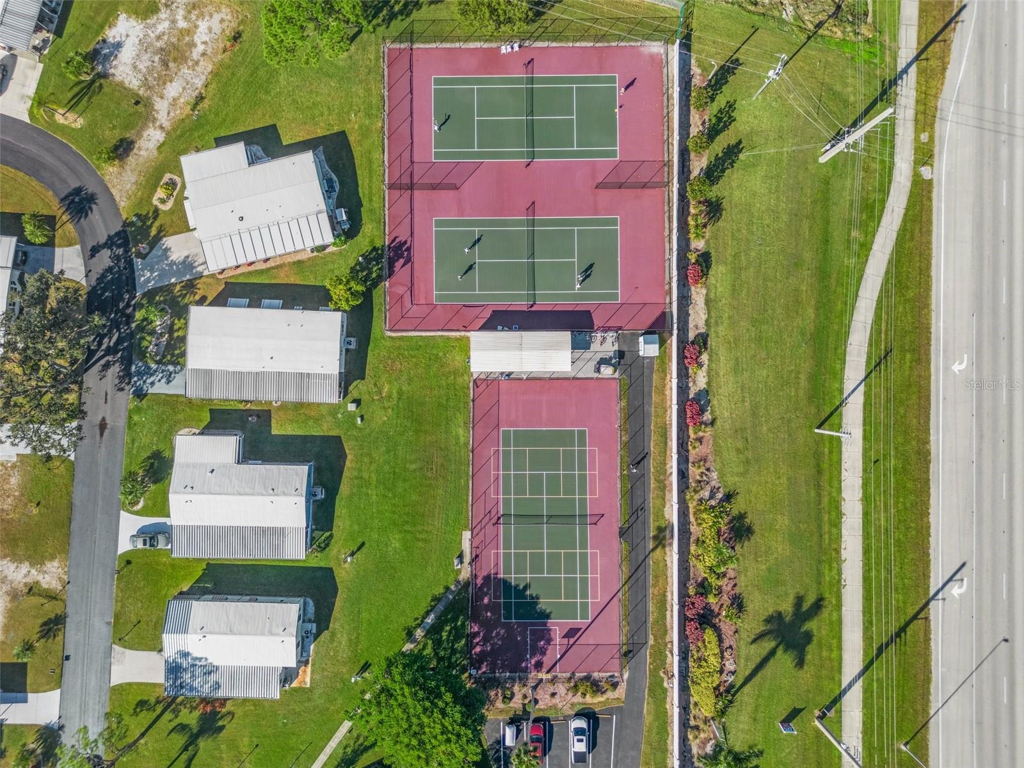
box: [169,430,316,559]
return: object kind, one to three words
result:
house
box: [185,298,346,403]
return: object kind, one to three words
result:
house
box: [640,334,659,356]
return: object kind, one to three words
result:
shed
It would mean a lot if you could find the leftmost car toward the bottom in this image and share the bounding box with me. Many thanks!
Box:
[129,533,169,552]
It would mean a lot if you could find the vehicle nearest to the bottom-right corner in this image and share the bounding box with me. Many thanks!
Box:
[570,716,589,764]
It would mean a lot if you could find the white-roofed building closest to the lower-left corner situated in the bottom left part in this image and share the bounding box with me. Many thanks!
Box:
[162,594,304,699]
